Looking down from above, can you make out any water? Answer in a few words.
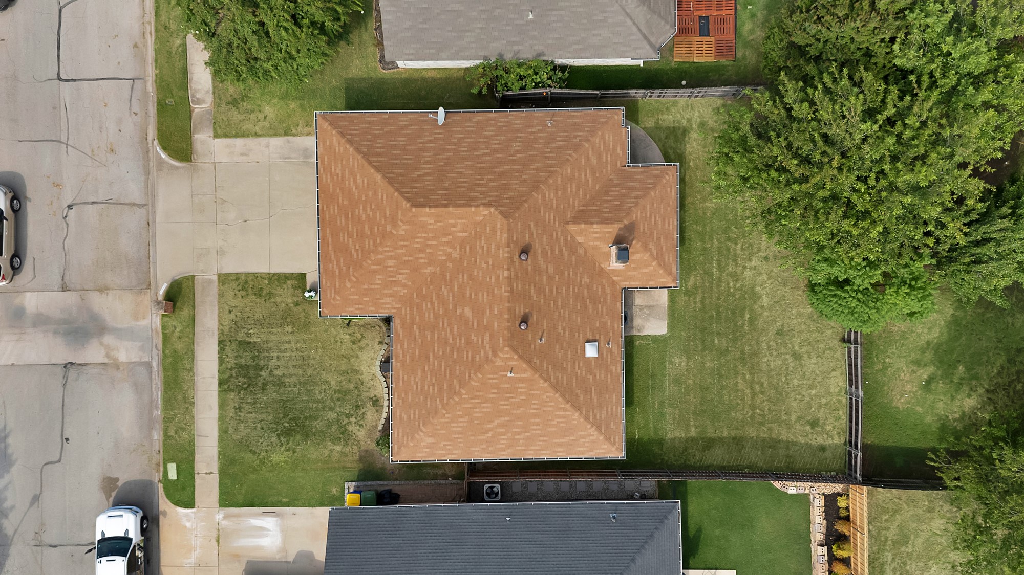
No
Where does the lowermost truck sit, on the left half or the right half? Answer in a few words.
left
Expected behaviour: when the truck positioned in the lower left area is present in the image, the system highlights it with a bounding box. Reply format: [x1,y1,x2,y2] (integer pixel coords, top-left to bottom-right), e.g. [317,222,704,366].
[89,502,154,575]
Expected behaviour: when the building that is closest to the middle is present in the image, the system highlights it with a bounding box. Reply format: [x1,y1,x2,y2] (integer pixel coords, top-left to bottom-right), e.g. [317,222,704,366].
[316,108,679,463]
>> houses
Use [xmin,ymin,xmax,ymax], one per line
[382,0,678,75]
[324,497,682,575]
[316,108,679,463]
